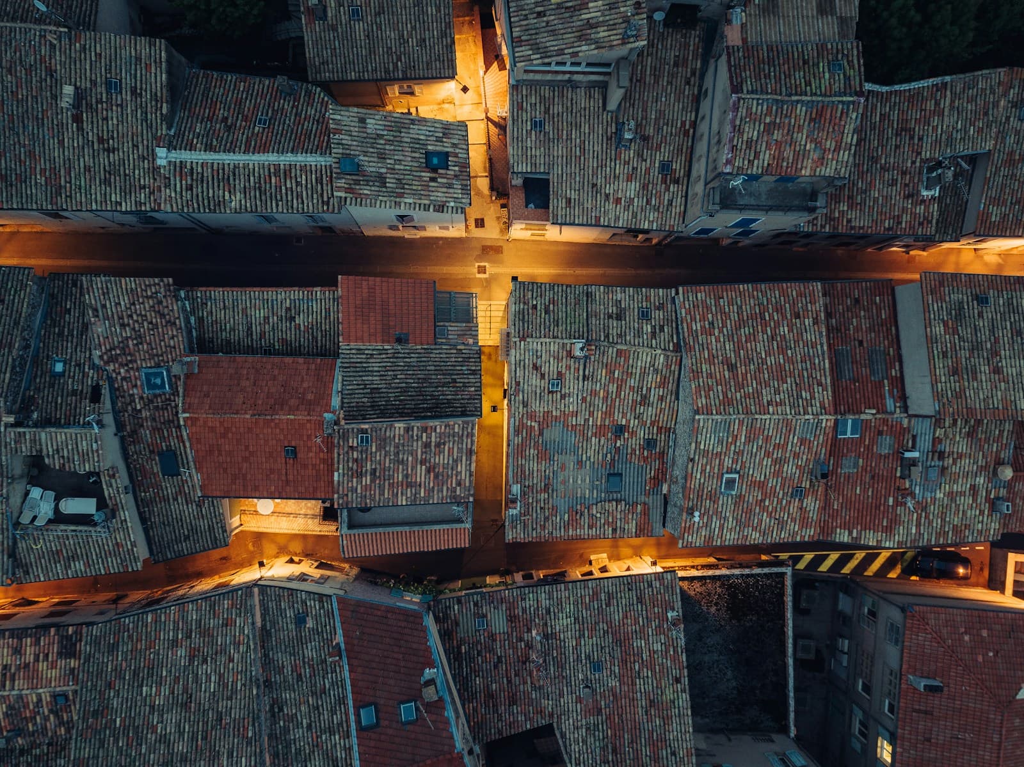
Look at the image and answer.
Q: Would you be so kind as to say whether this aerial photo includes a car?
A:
Yes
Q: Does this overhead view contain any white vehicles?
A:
No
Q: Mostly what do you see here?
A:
buildings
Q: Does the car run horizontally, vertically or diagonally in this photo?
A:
horizontally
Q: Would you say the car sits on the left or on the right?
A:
right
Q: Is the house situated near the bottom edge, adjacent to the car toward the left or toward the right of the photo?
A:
right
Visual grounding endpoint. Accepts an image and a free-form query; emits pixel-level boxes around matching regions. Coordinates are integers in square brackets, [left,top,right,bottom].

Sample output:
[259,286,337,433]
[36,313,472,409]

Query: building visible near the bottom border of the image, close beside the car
[841,576,1024,767]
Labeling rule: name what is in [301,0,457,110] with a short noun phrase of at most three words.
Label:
house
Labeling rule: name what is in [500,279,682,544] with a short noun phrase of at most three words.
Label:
house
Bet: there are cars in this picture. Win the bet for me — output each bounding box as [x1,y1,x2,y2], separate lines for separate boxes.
[918,554,980,585]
